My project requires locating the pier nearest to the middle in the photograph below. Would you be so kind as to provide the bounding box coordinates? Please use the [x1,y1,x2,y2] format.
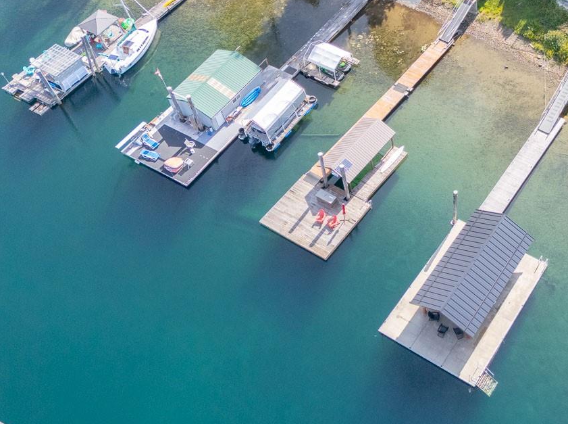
[259,173,372,262]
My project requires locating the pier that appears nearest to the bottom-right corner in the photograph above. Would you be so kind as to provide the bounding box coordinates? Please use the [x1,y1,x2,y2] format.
[378,219,549,389]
